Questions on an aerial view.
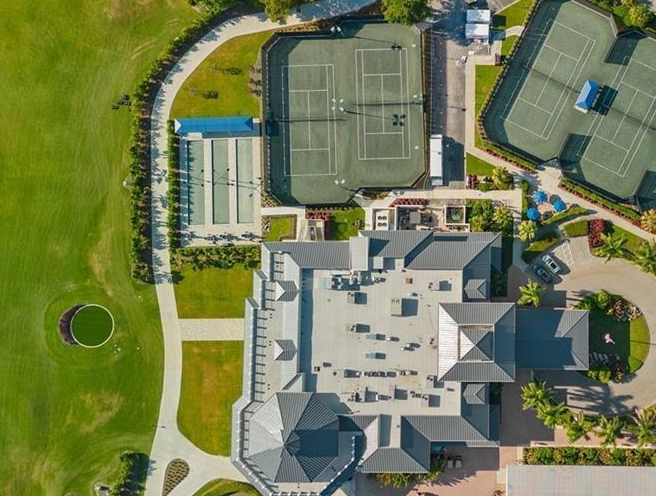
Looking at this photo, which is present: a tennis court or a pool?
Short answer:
tennis court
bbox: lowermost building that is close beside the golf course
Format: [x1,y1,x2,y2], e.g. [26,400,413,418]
[232,231,590,496]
